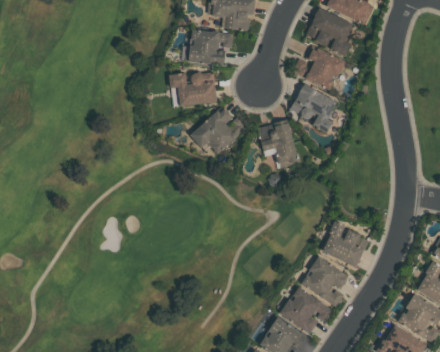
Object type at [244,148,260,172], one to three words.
swimming pool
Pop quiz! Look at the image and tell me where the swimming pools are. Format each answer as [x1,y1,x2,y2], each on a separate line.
[252,324,266,340]
[304,126,334,146]
[186,0,204,18]
[391,298,404,318]
[427,222,440,237]
[164,123,187,142]
[244,148,260,172]
[342,76,356,94]
[170,32,186,52]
